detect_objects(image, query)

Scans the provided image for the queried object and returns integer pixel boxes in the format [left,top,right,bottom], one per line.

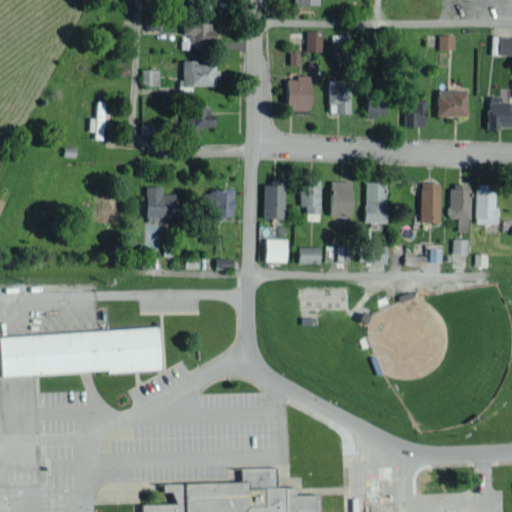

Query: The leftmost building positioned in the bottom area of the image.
[0,327,162,378]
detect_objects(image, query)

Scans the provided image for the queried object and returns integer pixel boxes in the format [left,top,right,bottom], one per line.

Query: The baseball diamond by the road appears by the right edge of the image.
[368,283,512,434]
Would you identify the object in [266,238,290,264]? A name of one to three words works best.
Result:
building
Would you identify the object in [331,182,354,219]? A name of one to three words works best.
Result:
house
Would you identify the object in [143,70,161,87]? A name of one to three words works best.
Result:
building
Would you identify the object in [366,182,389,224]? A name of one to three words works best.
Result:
house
